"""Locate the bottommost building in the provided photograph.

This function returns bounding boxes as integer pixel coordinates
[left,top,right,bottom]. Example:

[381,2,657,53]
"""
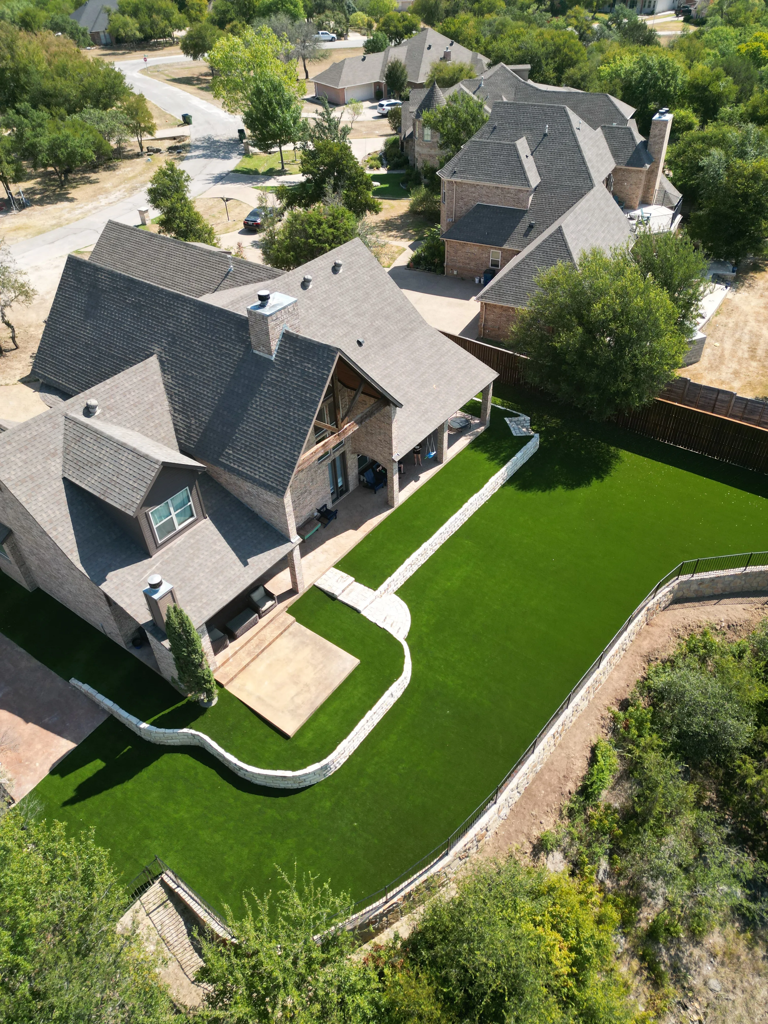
[0,218,502,701]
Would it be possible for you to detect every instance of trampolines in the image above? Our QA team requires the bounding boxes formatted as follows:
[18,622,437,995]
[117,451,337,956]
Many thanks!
[449,408,472,433]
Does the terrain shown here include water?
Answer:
No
